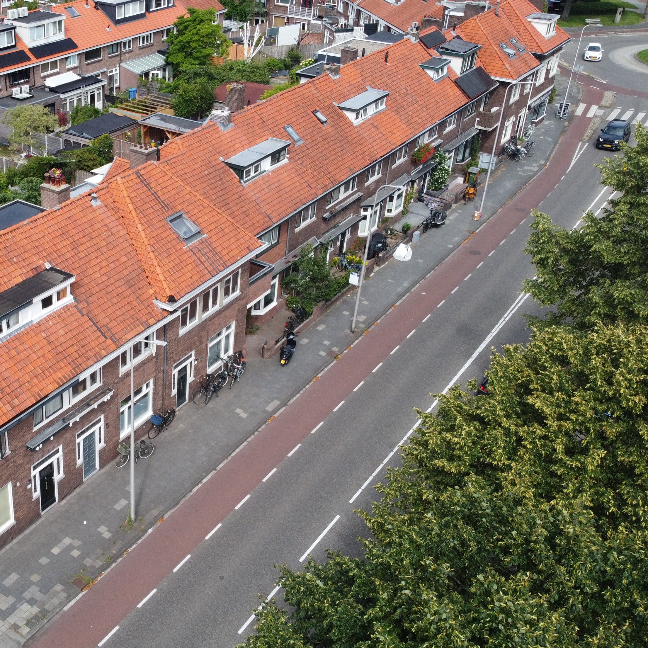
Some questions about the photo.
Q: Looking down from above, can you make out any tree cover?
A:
Yes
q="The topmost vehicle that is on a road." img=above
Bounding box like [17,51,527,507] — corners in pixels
[585,41,607,61]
